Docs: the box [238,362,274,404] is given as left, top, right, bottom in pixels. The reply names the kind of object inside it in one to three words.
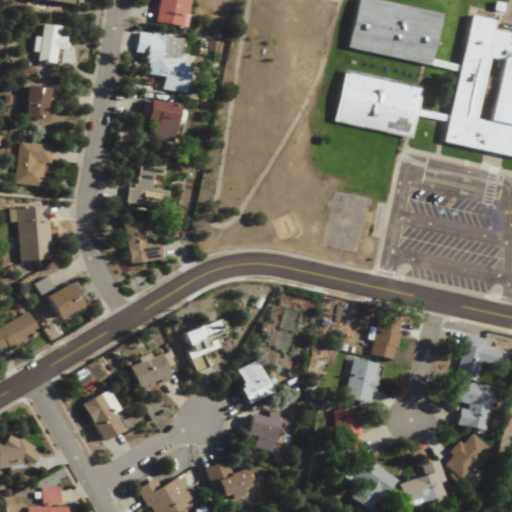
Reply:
house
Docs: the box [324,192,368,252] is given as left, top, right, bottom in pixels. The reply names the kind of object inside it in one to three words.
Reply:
basketball court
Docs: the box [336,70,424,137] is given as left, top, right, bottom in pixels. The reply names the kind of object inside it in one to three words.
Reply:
building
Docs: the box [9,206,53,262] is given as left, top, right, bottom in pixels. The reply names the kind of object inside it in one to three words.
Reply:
house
